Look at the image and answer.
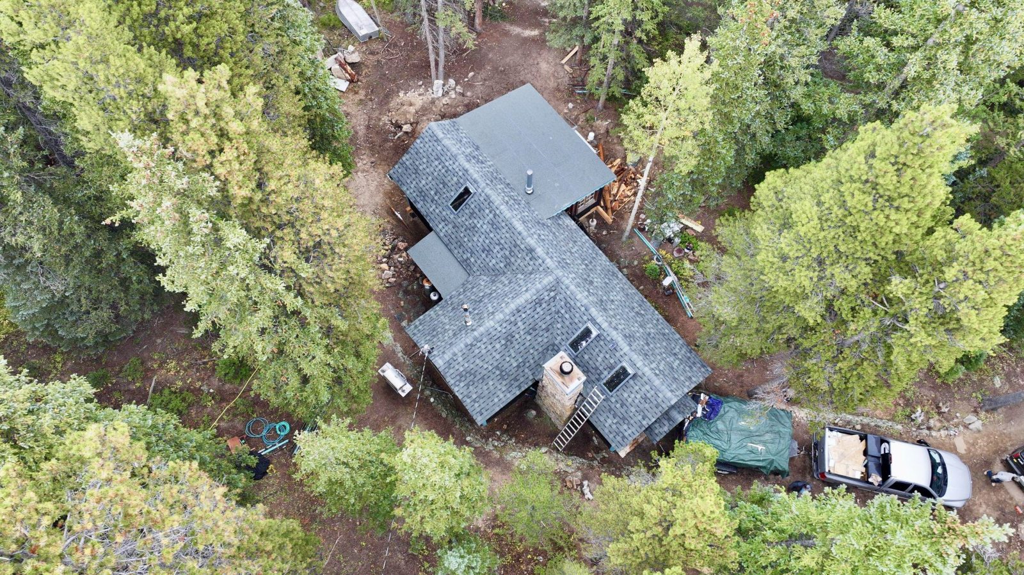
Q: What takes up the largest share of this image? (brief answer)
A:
trees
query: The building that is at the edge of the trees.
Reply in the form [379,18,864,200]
[387,84,712,454]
